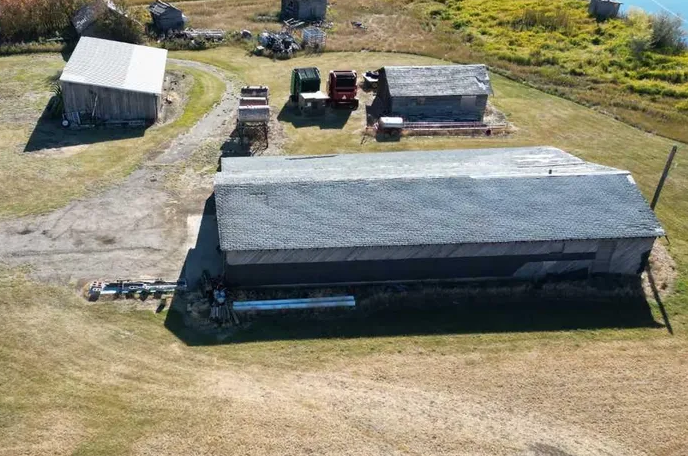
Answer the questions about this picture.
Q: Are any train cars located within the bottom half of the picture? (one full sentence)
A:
No, no train car is visible within the bottom half of the picture.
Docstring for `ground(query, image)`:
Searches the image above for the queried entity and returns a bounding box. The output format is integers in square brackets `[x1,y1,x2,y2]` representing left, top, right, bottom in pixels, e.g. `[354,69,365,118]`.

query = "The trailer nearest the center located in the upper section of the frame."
[356,112,408,138]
